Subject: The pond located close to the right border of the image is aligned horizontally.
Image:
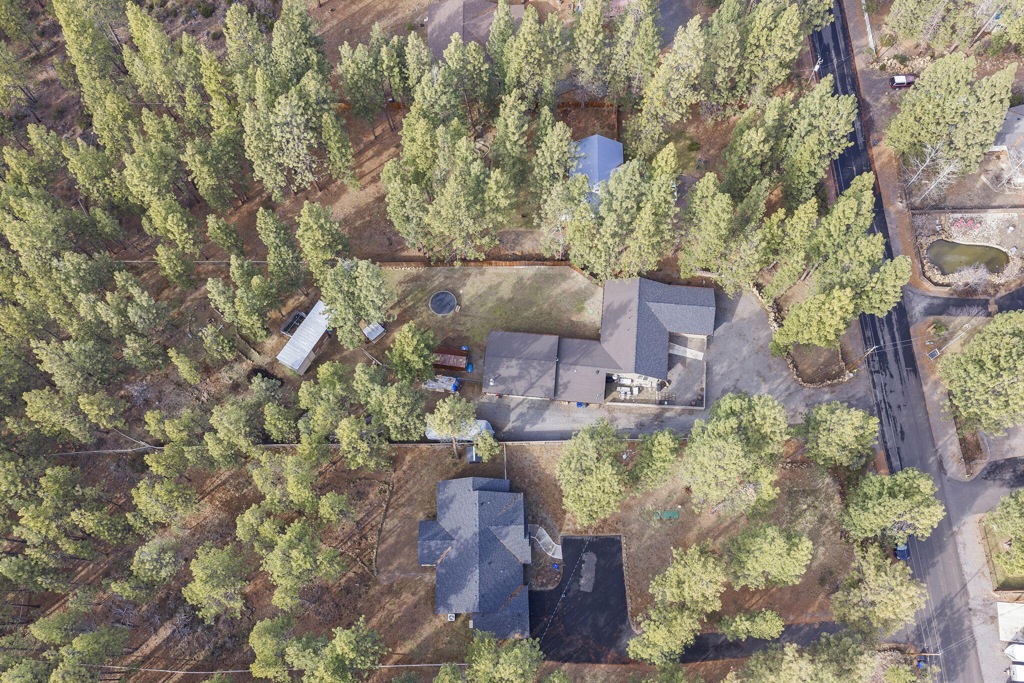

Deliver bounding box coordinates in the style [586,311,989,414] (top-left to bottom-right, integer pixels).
[929,239,1009,275]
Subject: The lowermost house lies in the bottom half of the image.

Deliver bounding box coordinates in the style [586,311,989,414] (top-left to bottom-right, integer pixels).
[418,477,531,639]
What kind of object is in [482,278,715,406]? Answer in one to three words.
house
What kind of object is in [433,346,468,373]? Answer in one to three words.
shed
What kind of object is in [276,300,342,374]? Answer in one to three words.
shed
